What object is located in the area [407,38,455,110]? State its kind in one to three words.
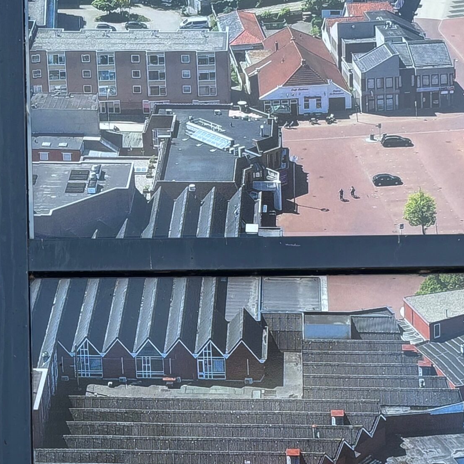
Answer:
building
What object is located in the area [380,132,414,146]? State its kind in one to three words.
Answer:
vehicle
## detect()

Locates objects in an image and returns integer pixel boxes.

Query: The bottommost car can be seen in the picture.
[373,171,403,185]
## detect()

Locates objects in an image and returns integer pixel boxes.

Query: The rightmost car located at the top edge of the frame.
[179,16,212,30]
